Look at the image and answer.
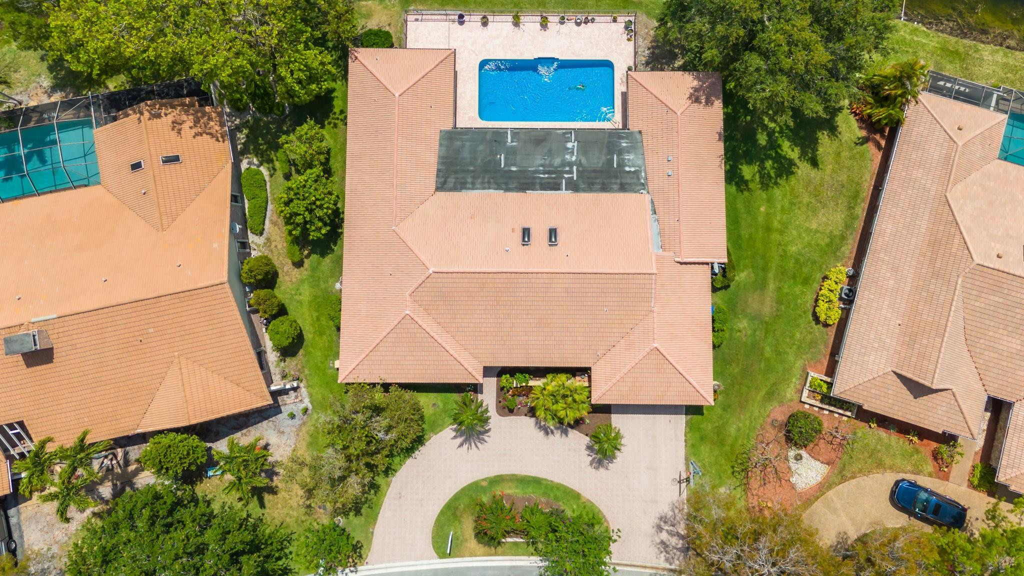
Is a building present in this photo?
Yes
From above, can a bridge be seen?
No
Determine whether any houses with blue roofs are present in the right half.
No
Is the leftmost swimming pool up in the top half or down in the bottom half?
top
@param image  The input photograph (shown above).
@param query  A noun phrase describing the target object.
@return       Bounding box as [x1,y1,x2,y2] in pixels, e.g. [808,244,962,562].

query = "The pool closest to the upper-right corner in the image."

[1000,117,1024,165]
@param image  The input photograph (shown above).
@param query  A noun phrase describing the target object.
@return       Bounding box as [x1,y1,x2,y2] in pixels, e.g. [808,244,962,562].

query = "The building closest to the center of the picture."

[337,46,728,407]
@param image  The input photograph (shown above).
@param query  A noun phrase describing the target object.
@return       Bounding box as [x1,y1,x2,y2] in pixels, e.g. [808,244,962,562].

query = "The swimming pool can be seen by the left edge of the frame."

[0,124,101,202]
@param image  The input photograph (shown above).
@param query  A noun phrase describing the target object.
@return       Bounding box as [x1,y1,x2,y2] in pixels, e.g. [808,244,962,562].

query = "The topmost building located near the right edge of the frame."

[831,92,1024,442]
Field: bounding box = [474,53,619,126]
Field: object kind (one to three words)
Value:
swimming pool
